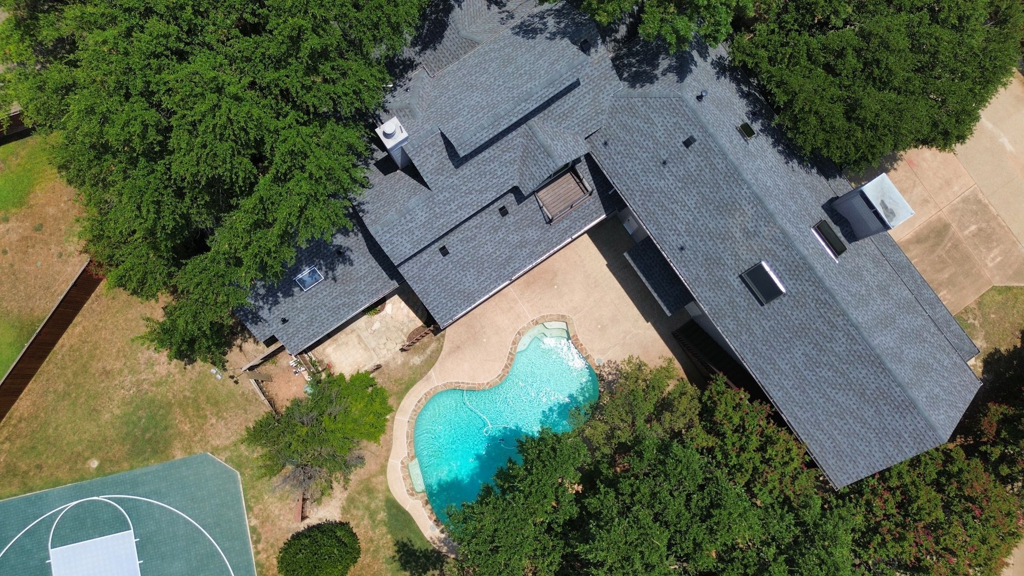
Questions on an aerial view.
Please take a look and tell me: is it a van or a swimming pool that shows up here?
swimming pool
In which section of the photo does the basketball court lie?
bottom left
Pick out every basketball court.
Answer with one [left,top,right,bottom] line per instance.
[0,452,258,576]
